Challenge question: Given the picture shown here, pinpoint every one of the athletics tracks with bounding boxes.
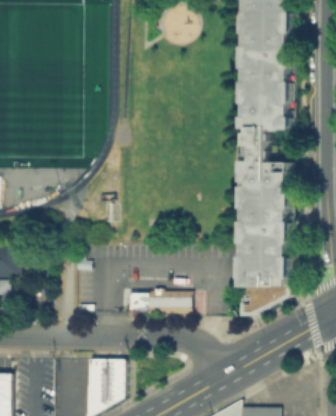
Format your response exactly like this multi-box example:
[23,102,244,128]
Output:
[0,0,119,217]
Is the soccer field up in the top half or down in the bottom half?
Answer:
top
